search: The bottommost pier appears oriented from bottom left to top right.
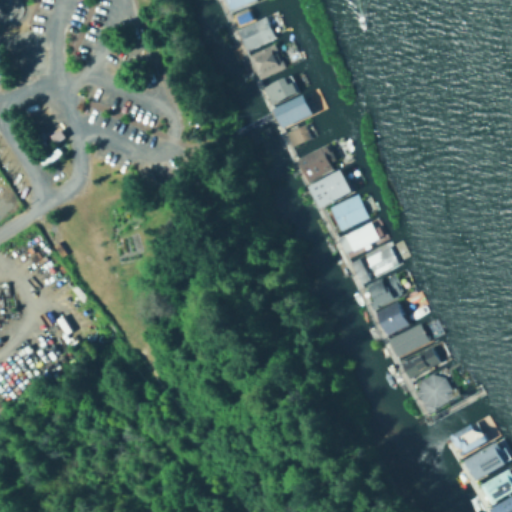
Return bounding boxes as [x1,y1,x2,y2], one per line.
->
[426,390,486,428]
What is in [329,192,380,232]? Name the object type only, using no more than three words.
house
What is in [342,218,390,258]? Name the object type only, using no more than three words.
house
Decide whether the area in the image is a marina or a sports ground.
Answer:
marina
